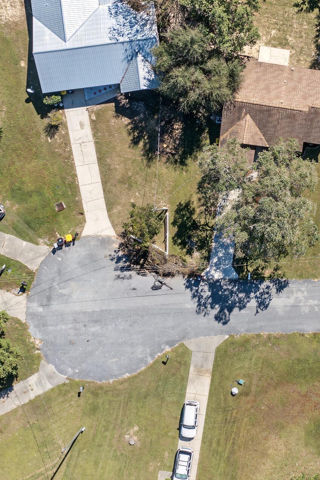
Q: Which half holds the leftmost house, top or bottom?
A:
top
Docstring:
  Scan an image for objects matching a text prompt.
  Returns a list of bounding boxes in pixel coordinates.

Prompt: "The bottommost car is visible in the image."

[172,448,192,480]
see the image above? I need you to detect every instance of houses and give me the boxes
[218,57,320,149]
[31,0,164,93]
